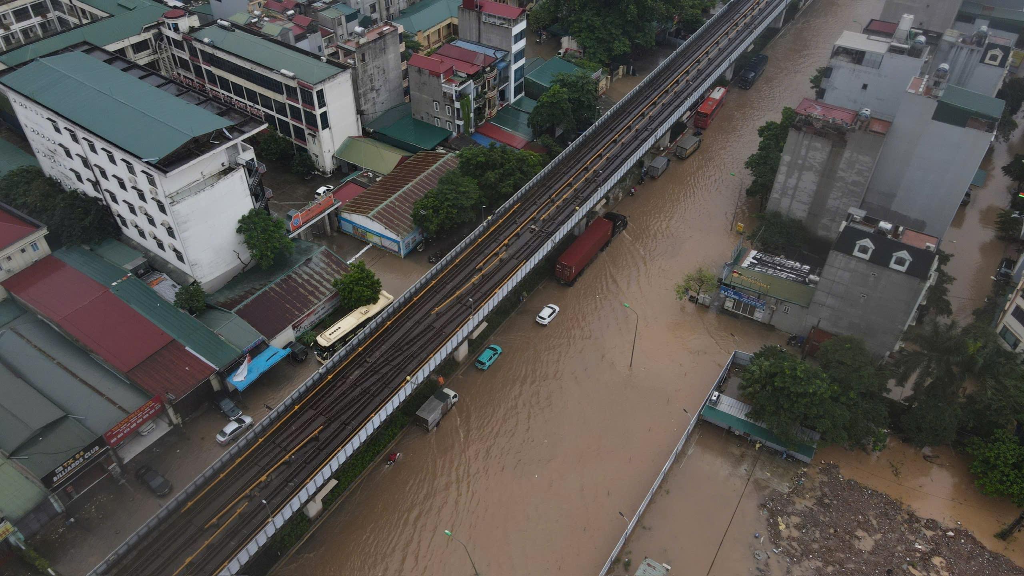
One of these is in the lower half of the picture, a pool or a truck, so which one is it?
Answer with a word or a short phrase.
truck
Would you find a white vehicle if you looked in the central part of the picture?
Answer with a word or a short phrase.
Yes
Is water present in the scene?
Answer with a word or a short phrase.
Yes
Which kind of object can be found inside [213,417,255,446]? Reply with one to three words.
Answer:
car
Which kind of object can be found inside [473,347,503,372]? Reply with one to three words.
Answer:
car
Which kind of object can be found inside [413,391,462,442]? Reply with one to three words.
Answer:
truck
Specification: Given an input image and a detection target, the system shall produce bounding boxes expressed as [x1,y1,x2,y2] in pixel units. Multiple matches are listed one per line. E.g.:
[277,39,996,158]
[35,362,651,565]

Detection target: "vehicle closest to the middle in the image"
[533,306,561,328]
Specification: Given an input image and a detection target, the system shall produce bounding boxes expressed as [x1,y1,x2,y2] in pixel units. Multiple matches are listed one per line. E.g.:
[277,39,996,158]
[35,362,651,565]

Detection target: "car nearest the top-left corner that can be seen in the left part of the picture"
[312,186,338,201]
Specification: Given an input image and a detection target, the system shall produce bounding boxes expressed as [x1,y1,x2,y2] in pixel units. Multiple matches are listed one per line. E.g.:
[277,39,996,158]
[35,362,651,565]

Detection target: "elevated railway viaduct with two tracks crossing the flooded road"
[85,0,796,576]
